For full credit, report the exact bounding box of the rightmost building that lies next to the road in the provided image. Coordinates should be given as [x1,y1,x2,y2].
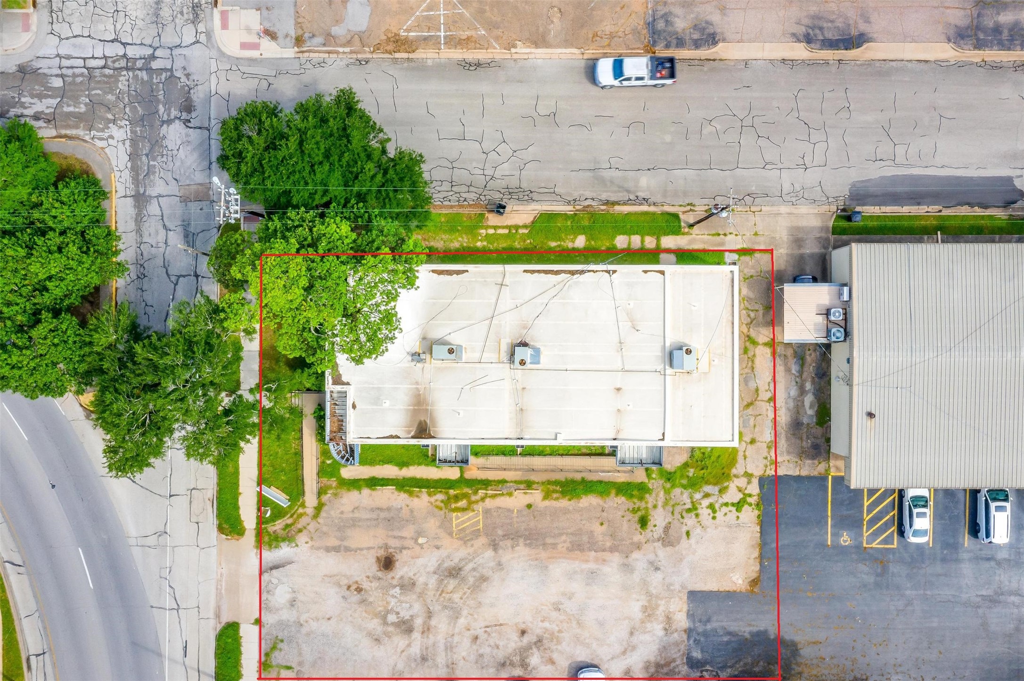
[833,235,1024,490]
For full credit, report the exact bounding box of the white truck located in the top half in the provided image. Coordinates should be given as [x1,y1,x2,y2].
[595,55,675,91]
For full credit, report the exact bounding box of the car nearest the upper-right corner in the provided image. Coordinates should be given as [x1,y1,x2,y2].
[789,268,820,284]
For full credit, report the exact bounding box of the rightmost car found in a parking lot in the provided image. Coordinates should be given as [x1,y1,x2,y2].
[972,490,1009,545]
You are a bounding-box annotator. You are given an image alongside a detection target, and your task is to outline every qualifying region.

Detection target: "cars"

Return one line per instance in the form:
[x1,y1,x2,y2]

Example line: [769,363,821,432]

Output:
[972,490,1009,545]
[579,665,605,681]
[789,268,820,284]
[900,490,934,543]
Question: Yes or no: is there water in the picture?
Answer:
No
